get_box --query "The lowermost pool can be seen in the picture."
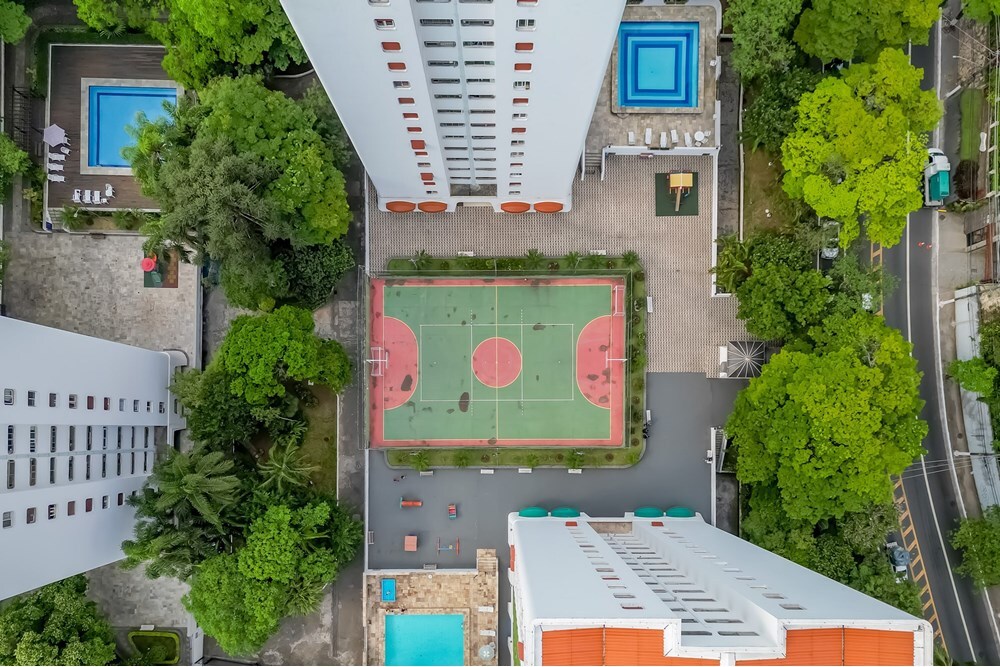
[379,608,470,667]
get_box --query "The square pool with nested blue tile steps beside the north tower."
[611,21,705,113]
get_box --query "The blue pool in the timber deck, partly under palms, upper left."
[80,78,184,176]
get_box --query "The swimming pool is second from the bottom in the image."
[381,578,396,601]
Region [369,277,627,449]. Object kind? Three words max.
sports court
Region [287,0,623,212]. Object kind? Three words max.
building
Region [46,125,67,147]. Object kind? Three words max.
umbrella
